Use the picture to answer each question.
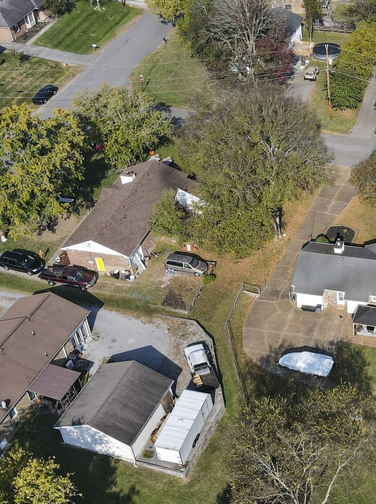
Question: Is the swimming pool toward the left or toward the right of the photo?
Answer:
right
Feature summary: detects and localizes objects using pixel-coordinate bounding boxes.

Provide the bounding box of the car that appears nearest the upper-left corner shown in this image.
[32,83,58,100]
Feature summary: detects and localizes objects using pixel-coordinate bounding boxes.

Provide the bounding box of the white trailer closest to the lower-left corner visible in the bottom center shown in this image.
[156,392,213,468]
